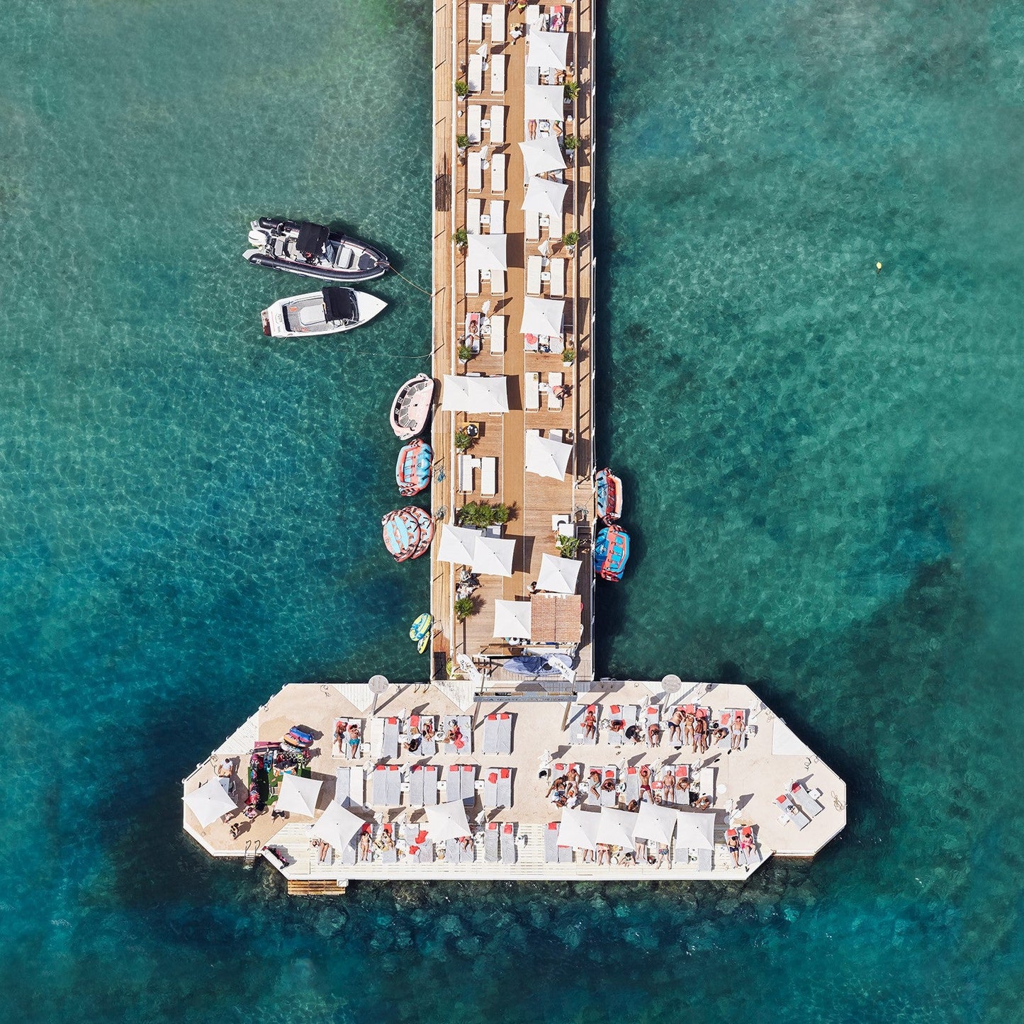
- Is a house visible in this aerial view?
No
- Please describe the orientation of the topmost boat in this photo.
from left to right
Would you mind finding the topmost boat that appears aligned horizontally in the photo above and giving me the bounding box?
[242,216,389,279]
